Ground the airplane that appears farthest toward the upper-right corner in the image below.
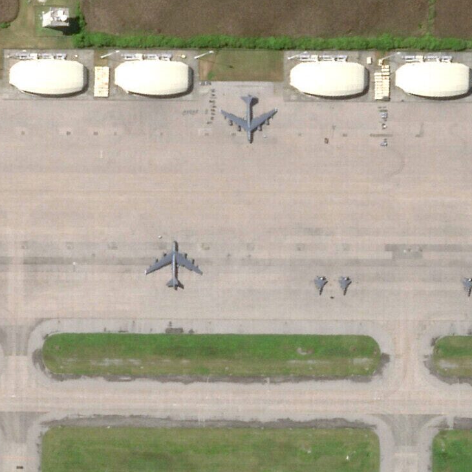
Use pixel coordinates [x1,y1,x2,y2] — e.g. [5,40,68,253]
[221,93,277,141]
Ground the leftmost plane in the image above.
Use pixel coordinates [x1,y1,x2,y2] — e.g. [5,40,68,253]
[146,241,202,289]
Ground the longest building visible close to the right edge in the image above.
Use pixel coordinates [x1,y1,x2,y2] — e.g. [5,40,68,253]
[396,57,471,97]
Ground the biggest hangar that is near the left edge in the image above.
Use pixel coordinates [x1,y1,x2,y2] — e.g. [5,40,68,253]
[9,55,85,95]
